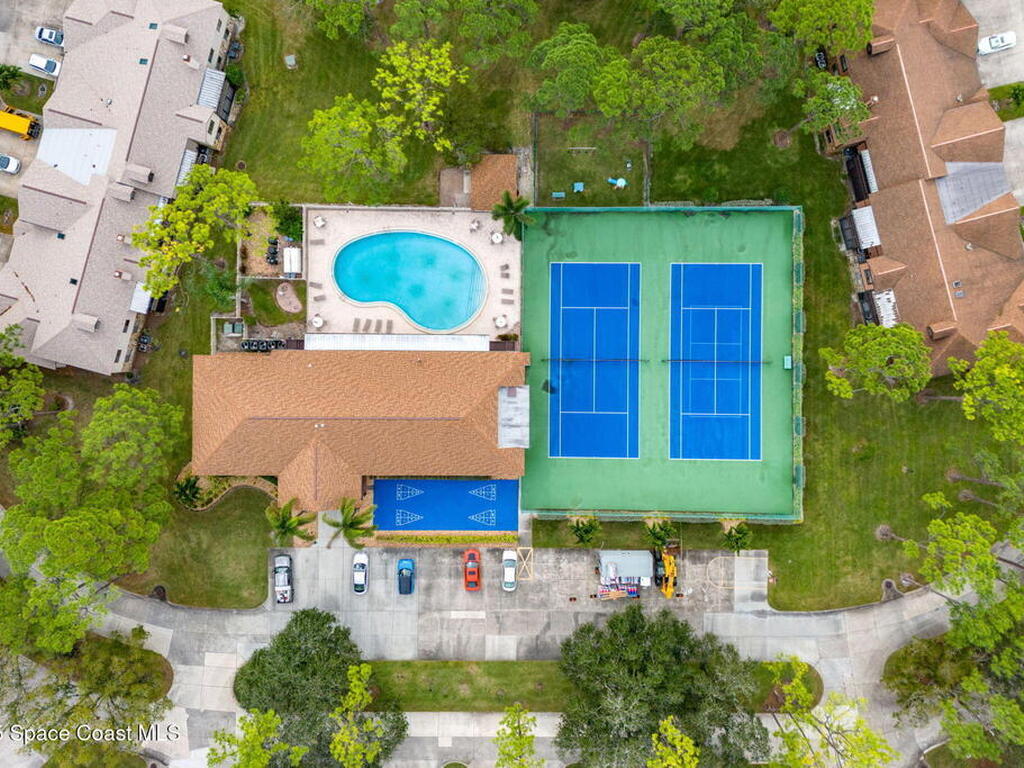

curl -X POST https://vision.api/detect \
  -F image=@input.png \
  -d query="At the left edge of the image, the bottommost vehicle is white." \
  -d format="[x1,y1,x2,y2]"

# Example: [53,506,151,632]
[0,154,26,174]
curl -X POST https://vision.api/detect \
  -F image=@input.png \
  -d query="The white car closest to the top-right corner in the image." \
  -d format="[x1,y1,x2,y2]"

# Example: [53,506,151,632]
[977,32,1016,57]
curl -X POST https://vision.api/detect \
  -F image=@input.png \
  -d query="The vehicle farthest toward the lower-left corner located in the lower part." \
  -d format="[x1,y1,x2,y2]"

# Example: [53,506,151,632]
[273,555,294,602]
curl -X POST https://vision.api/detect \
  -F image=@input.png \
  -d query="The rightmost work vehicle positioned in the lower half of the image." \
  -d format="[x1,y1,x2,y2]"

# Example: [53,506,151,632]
[654,541,677,598]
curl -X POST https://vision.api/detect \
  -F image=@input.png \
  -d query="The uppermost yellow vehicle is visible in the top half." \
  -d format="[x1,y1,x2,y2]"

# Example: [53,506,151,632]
[0,107,41,144]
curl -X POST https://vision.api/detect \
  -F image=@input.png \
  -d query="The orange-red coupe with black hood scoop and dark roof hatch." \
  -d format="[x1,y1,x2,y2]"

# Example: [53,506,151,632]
[462,548,481,590]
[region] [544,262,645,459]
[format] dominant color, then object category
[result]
blue tennis court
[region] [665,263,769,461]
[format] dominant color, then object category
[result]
blue tennis court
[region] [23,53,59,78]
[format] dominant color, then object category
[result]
white car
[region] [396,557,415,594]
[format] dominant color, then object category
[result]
blue car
